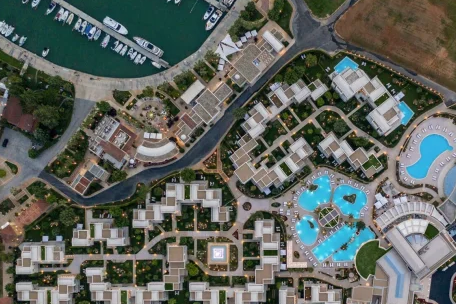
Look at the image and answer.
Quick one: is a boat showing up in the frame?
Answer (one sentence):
Yes, the picture does show a boat.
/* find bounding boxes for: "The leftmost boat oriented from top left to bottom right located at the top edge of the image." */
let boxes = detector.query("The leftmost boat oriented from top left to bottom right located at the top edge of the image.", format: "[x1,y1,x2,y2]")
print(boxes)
[102,14,127,32]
